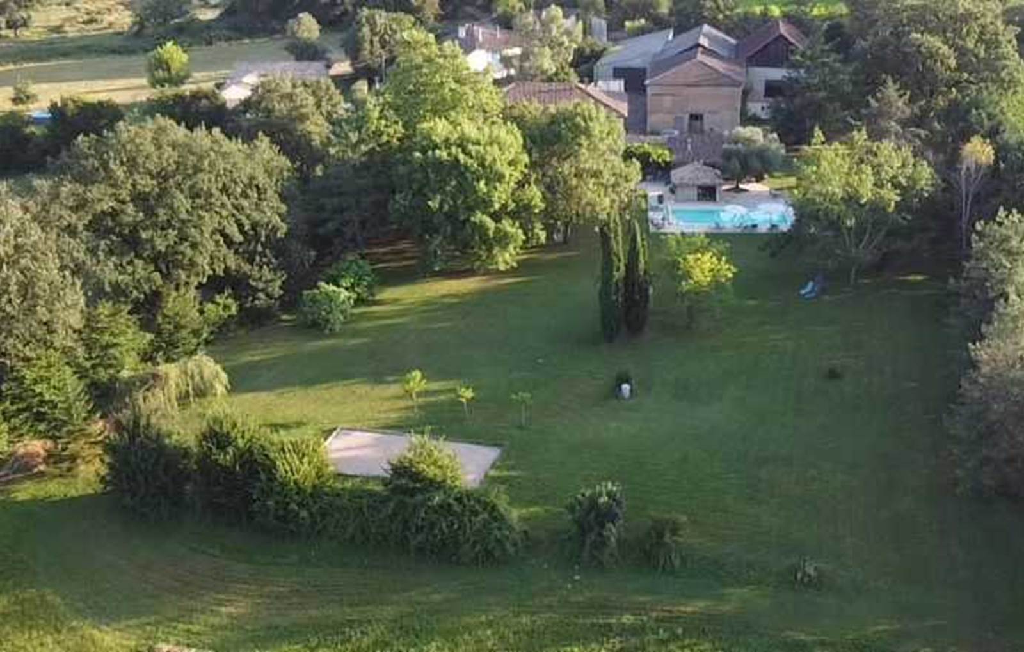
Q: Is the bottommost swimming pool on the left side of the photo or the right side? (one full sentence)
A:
You can find the bottommost swimming pool on the right side of the picture.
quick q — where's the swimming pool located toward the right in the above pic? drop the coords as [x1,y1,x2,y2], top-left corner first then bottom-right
[670,205,800,228]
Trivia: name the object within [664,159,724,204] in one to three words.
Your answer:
building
